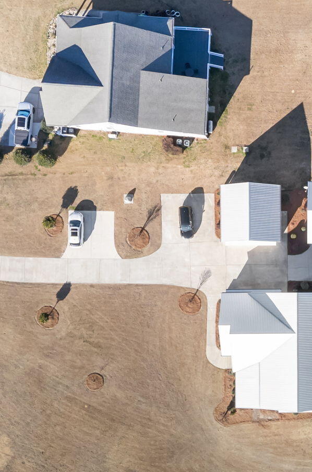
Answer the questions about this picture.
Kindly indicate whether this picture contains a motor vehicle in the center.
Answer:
Yes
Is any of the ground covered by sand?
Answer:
No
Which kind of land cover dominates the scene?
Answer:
grass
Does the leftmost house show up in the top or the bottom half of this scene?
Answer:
top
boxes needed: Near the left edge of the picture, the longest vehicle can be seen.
[15,103,34,147]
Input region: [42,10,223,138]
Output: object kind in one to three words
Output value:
house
